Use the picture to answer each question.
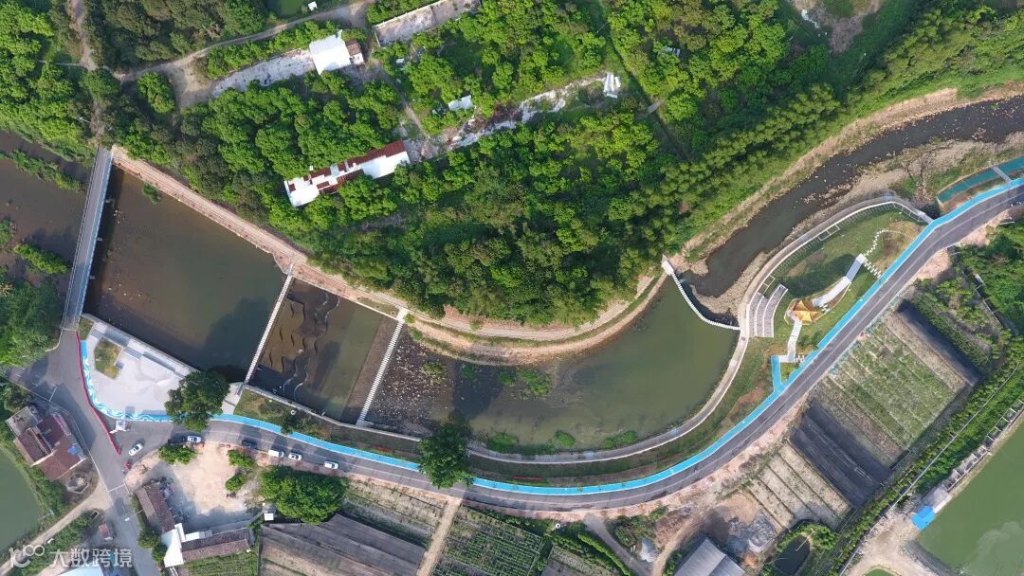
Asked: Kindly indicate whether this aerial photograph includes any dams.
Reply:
Yes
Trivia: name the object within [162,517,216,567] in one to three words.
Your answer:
house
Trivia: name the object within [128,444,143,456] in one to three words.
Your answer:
vehicle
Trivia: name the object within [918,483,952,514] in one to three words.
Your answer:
shed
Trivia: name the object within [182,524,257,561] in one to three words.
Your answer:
barn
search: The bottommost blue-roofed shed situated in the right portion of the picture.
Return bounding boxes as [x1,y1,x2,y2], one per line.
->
[905,502,936,531]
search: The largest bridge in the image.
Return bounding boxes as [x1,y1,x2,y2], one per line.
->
[59,141,114,330]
